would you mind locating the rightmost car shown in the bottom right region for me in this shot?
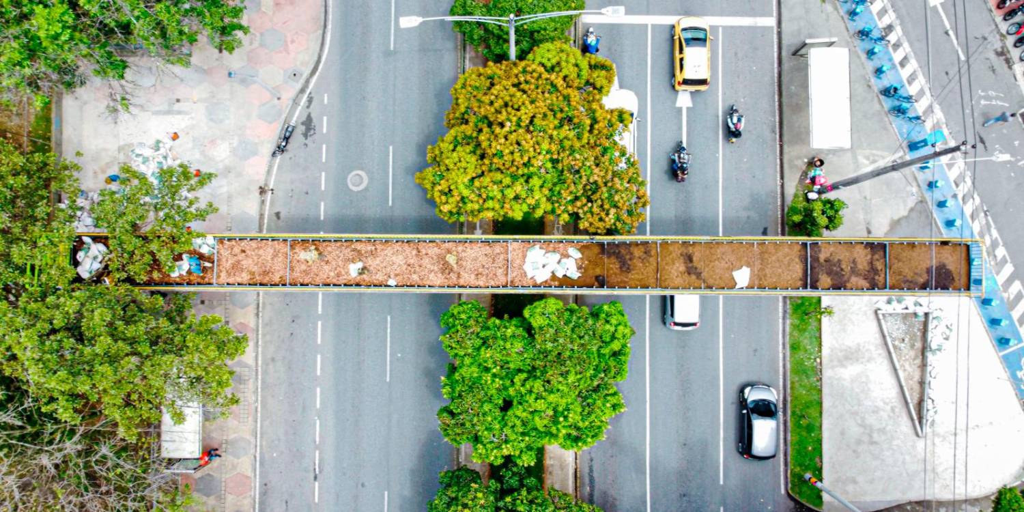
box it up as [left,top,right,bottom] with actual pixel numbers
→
[736,381,781,460]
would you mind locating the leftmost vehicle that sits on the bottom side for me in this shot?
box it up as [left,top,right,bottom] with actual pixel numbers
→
[662,295,699,331]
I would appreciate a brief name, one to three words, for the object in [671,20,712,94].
car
